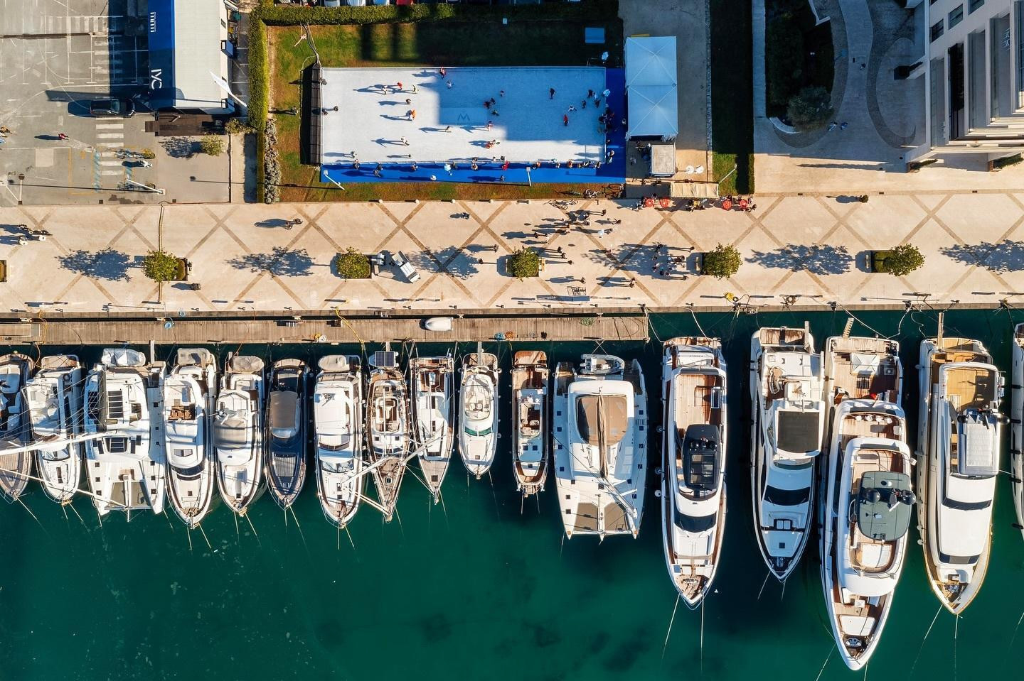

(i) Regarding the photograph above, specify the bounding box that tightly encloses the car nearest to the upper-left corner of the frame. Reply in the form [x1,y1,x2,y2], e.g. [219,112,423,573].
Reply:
[85,93,133,117]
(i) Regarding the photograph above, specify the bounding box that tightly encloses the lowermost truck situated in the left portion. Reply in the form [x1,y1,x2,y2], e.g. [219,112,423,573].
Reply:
[390,252,415,282]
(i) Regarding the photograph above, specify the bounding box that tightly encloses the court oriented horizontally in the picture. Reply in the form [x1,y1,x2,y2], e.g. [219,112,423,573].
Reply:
[319,63,626,183]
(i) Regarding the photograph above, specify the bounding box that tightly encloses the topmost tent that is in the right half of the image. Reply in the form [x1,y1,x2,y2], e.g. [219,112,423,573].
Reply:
[622,36,679,146]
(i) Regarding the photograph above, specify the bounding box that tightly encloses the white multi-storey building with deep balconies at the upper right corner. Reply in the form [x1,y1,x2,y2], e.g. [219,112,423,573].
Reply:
[903,0,1024,166]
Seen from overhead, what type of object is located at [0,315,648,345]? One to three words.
pier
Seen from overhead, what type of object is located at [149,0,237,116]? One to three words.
building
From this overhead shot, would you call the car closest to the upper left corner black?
Yes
